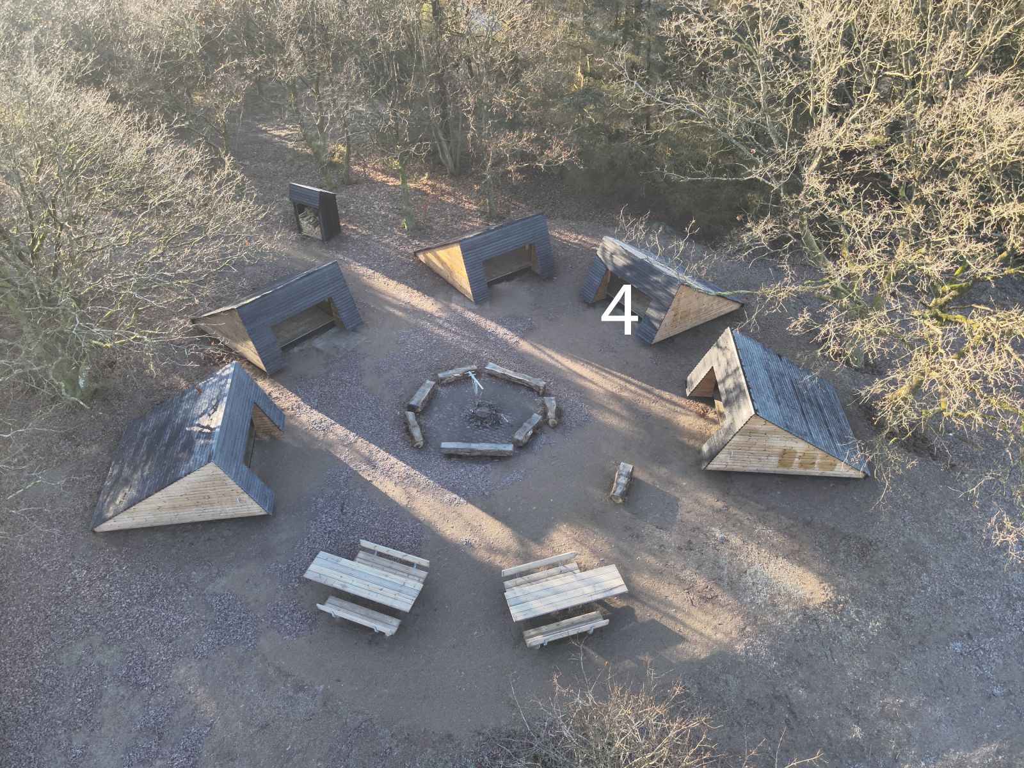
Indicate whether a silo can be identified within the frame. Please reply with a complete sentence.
No, there isn't any silo down there.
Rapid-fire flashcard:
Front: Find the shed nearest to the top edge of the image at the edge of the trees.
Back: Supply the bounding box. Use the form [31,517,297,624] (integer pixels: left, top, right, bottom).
[289,182,340,241]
